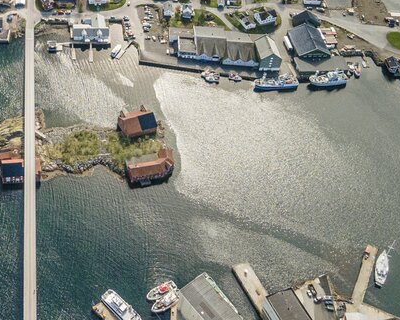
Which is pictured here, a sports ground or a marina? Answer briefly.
marina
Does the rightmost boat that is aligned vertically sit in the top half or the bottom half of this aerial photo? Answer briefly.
bottom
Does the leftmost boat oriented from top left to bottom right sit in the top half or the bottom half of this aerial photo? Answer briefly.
bottom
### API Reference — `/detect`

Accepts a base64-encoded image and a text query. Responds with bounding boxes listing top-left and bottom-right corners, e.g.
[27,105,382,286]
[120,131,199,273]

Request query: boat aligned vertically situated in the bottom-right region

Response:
[373,237,400,291]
